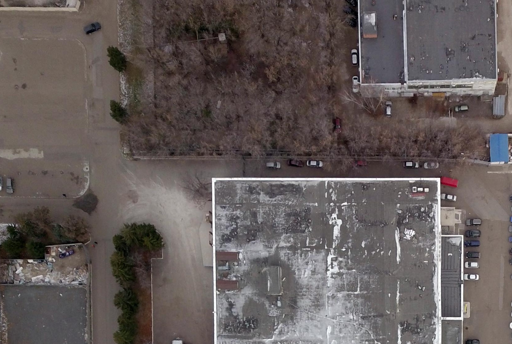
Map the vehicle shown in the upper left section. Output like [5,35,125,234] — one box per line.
[84,22,101,35]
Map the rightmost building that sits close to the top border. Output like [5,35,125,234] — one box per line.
[406,0,497,101]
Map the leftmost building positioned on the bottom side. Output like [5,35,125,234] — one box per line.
[212,178,440,344]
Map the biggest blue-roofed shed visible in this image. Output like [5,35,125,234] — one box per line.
[489,134,509,165]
